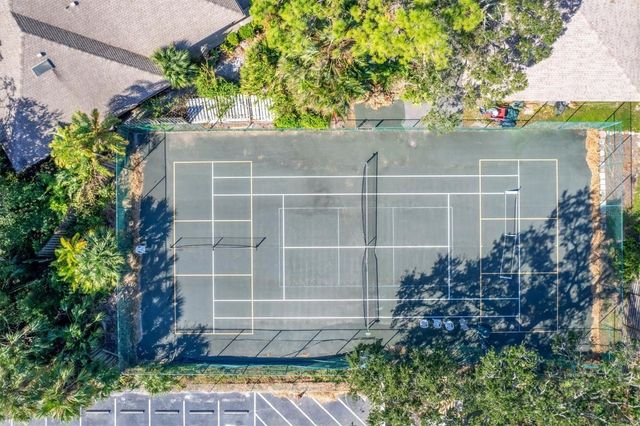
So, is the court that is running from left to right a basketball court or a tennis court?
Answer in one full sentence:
The court that is running from left to right appears to be a tennis court.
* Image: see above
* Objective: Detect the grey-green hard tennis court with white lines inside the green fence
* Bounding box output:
[132,130,600,363]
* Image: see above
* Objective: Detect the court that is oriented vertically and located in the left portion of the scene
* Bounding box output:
[174,161,254,335]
